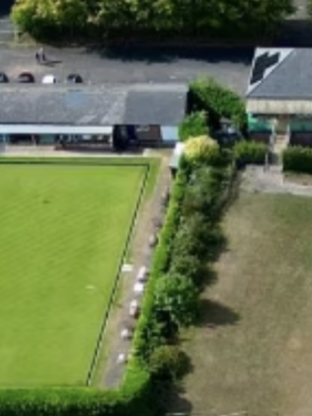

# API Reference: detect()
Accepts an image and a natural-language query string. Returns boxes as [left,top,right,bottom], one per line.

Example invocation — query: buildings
[246,41,312,168]
[0,83,198,157]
